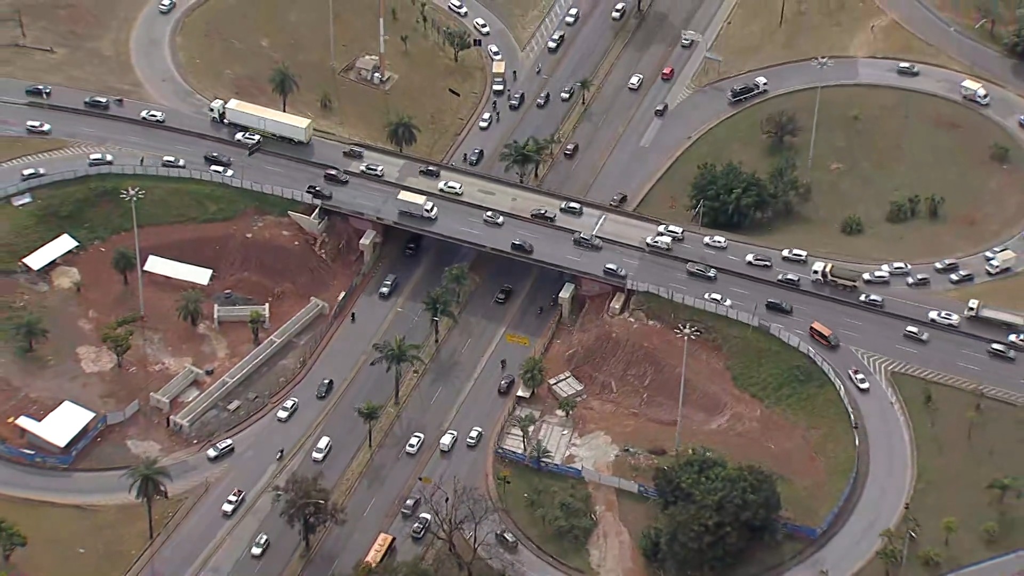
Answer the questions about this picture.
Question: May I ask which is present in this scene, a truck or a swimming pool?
truck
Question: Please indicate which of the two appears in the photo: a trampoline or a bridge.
bridge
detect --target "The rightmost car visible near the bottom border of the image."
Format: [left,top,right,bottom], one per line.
[494,529,519,548]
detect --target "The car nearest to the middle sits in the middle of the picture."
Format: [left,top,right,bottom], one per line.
[495,285,512,303]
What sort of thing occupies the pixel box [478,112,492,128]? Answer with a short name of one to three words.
car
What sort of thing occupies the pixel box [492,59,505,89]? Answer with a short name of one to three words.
vehicle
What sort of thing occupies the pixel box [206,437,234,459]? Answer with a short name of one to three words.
car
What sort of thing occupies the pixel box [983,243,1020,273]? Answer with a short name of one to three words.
truck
